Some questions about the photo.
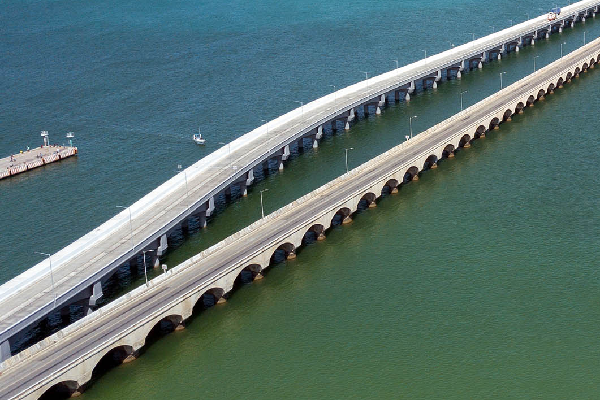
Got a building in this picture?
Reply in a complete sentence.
No, there isn't any building down there.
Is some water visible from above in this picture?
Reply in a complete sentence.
Yes, there is water in the image.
